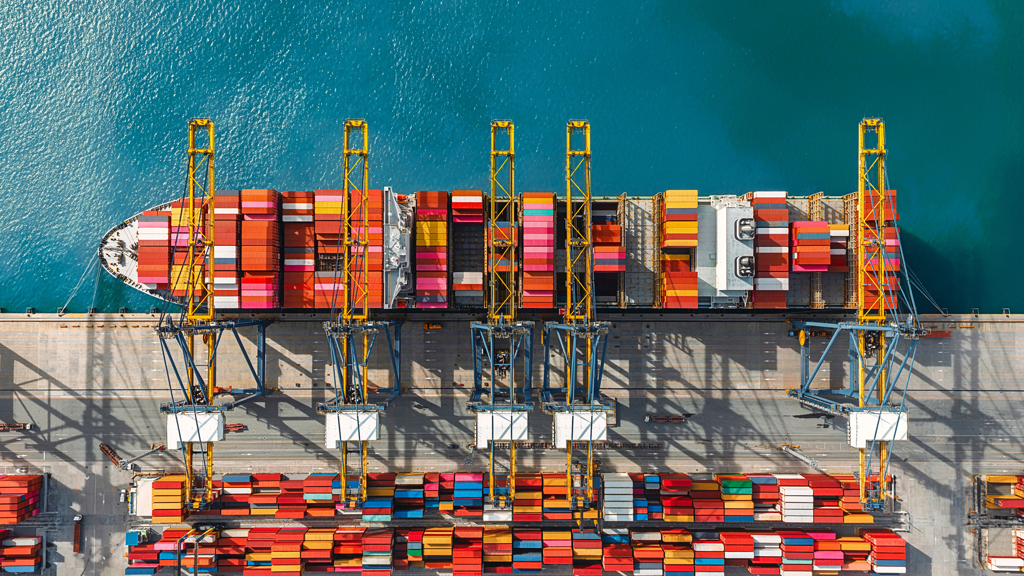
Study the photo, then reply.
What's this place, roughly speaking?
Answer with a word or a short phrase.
port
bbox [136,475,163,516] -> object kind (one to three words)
building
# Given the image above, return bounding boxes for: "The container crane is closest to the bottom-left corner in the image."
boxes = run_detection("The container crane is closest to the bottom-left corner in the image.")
[175,524,219,576]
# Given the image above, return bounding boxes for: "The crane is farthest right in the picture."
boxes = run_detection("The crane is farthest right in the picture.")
[778,116,926,508]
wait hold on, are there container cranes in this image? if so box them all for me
[175,524,219,576]
[465,116,538,508]
[778,116,926,508]
[317,117,415,508]
[537,117,614,508]
[152,116,286,508]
